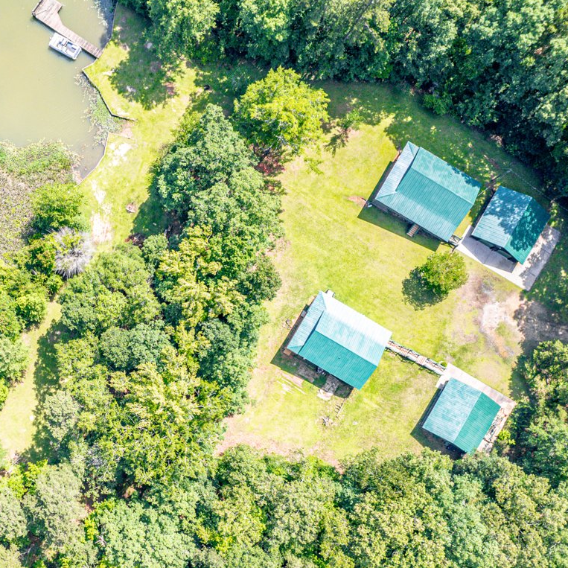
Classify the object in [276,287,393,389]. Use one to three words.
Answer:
building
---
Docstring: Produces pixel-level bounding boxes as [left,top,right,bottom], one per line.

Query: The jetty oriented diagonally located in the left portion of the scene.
[33,0,102,57]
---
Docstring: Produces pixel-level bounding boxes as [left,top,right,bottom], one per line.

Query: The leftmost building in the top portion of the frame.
[369,141,482,242]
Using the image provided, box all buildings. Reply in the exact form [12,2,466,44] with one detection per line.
[369,141,482,242]
[276,287,393,389]
[467,186,551,264]
[419,377,502,456]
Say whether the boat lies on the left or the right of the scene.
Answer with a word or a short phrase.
left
